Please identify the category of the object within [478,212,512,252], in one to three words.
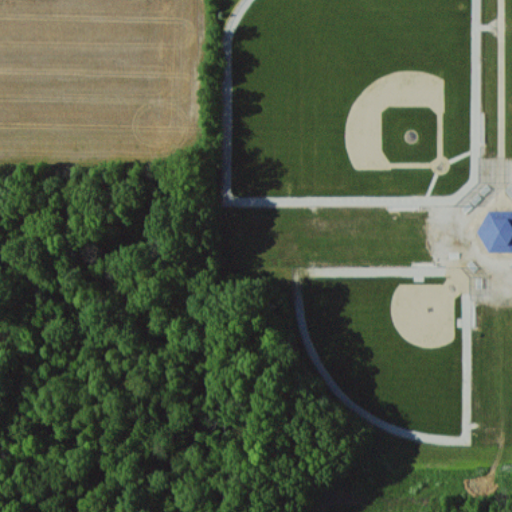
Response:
building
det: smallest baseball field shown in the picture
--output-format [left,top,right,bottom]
[294,266,480,446]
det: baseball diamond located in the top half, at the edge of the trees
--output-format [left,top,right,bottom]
[223,0,482,211]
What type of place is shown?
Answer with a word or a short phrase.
sports ground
